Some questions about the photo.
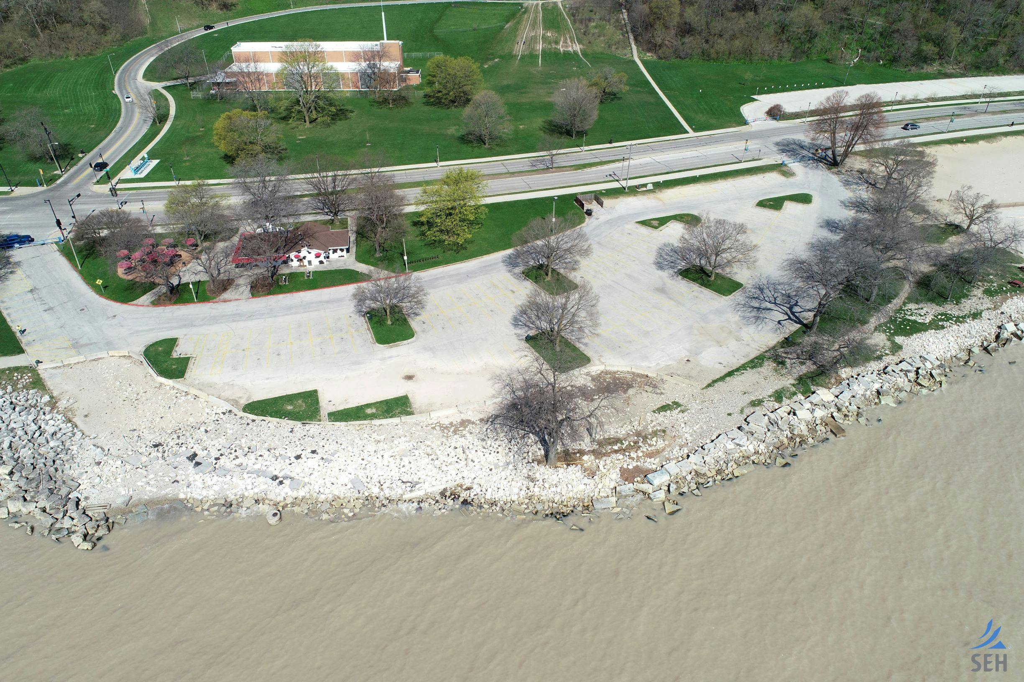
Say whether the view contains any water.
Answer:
Yes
